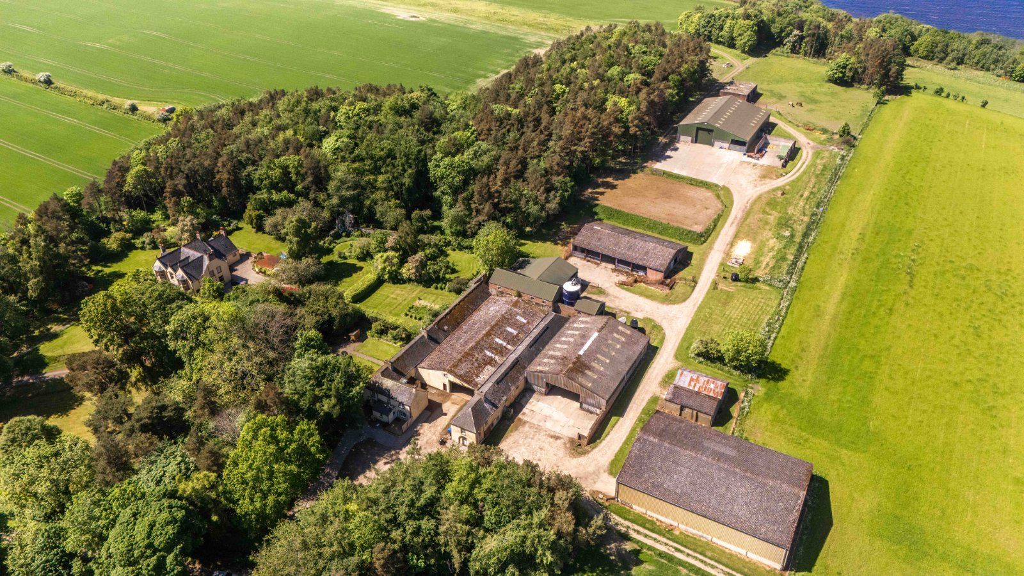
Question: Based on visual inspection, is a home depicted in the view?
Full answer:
Yes, this view includes a home.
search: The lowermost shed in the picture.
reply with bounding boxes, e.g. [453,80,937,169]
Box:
[621,409,819,564]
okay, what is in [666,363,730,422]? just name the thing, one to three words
shed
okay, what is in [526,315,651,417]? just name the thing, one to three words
barn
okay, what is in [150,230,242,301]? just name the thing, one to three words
house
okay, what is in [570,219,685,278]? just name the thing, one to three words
shed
